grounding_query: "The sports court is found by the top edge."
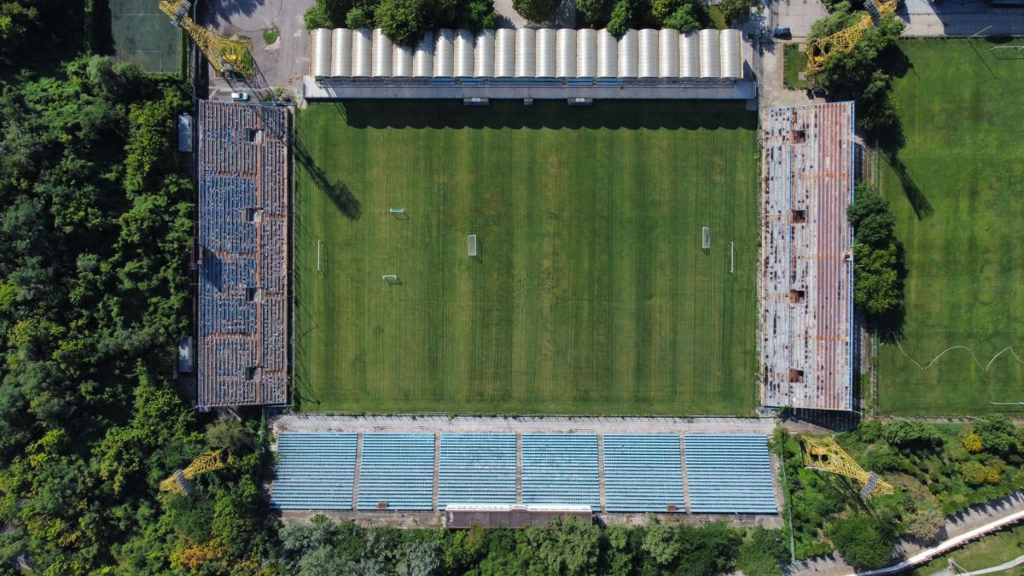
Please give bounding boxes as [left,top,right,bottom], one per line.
[101,0,181,73]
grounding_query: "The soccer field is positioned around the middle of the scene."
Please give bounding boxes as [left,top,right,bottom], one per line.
[292,85,759,416]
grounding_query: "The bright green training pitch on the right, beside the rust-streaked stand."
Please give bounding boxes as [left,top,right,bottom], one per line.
[878,38,1024,416]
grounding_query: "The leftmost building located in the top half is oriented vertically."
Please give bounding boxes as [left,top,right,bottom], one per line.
[178,114,195,153]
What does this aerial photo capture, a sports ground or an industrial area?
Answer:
sports ground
